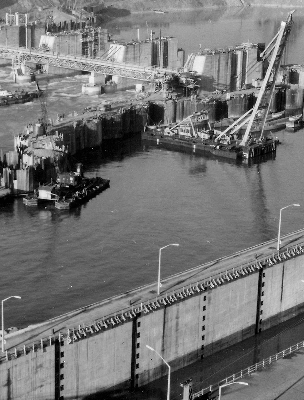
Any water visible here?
Yes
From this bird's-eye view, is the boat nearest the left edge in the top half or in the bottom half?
top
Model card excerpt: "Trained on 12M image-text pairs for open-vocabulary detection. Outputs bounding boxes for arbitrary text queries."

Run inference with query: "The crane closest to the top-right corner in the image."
[141,4,299,159]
